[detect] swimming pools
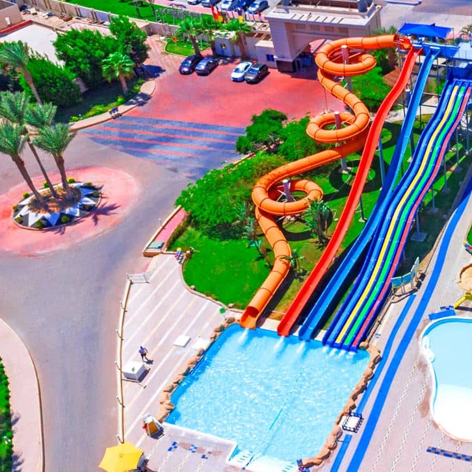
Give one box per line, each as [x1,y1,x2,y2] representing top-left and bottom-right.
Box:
[418,316,472,441]
[162,323,370,472]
